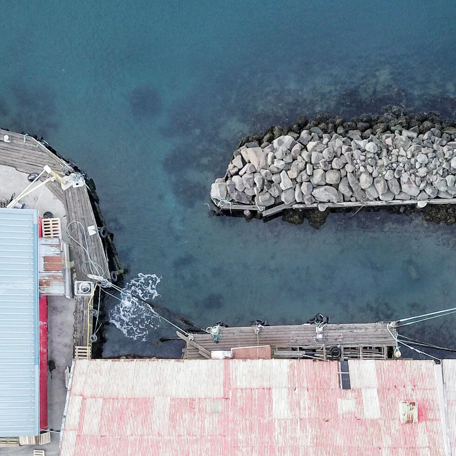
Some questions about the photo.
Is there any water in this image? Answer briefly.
Yes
